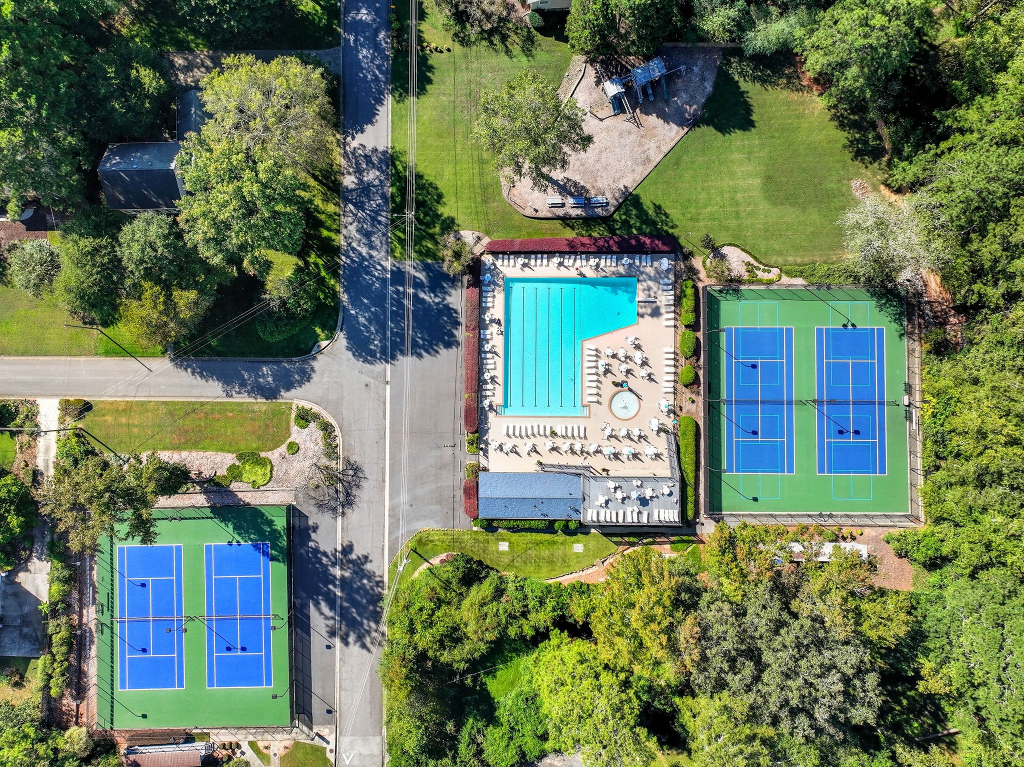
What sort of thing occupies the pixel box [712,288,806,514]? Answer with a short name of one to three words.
tennis court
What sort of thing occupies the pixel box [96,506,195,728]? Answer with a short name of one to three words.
tennis court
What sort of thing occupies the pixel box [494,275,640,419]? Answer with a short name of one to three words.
swimming pool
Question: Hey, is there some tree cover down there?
Yes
